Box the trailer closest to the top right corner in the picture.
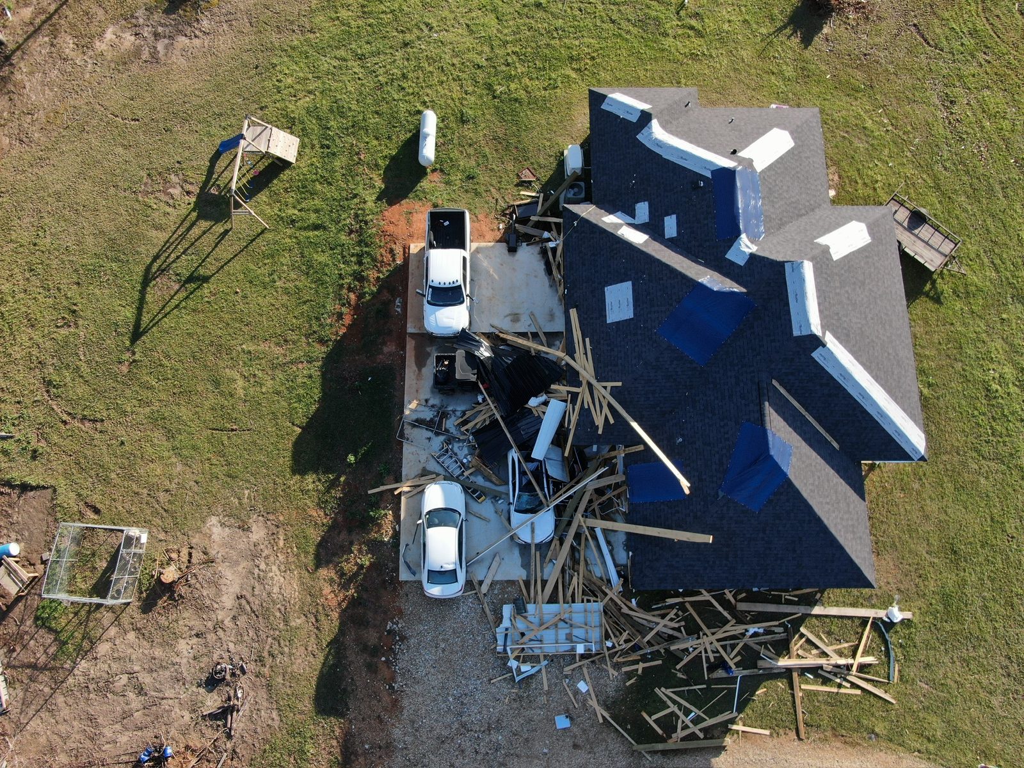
[886,185,964,277]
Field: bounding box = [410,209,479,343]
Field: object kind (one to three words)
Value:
truck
